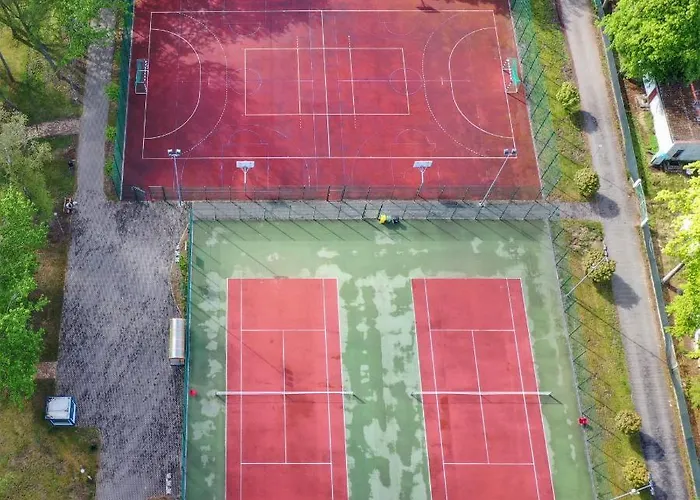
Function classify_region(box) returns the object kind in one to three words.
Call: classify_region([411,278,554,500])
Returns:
tennis court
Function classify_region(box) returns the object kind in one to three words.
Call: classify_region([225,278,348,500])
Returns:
tennis court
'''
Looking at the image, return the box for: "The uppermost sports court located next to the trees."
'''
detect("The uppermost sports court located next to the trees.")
[120,0,543,201]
